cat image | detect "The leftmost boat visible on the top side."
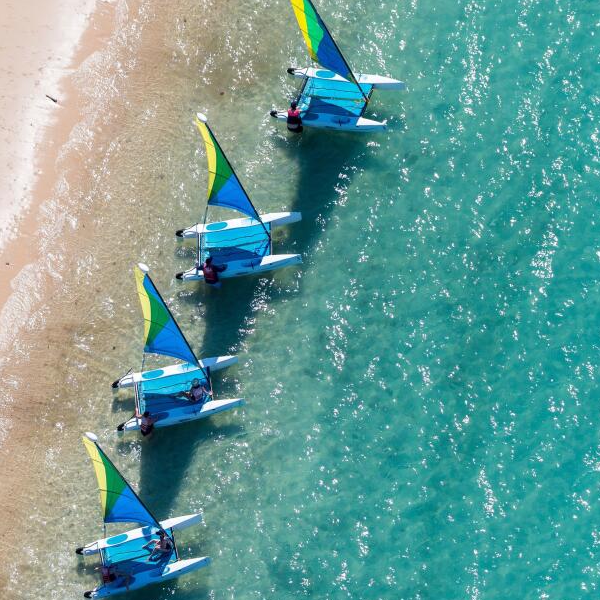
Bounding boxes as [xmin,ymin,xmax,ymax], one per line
[176,113,304,283]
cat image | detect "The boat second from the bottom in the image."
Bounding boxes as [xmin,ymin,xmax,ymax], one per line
[112,264,247,434]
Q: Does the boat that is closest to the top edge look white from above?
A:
No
